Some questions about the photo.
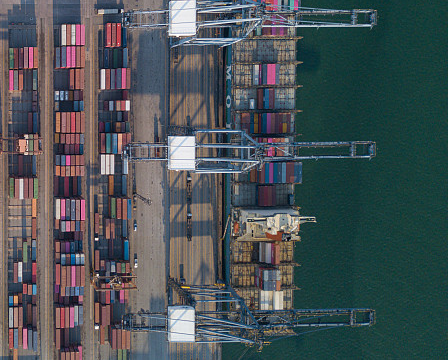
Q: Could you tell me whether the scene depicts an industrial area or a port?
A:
port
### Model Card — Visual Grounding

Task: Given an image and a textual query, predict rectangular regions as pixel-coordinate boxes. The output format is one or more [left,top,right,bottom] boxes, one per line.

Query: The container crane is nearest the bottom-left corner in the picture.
[92,261,142,291]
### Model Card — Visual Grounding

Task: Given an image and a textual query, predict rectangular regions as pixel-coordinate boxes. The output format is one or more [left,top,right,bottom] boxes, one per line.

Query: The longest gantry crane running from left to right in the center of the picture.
[124,113,380,174]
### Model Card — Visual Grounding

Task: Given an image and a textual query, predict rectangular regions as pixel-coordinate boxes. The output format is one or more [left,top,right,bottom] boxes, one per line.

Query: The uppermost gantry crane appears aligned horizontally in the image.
[124,0,381,59]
